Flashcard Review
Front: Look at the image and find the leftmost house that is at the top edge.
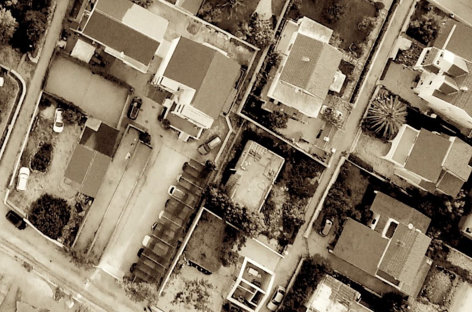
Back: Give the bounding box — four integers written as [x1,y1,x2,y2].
[78,0,169,73]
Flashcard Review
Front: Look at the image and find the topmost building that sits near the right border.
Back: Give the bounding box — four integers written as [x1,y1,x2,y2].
[405,16,472,126]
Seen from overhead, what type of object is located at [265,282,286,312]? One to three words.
car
